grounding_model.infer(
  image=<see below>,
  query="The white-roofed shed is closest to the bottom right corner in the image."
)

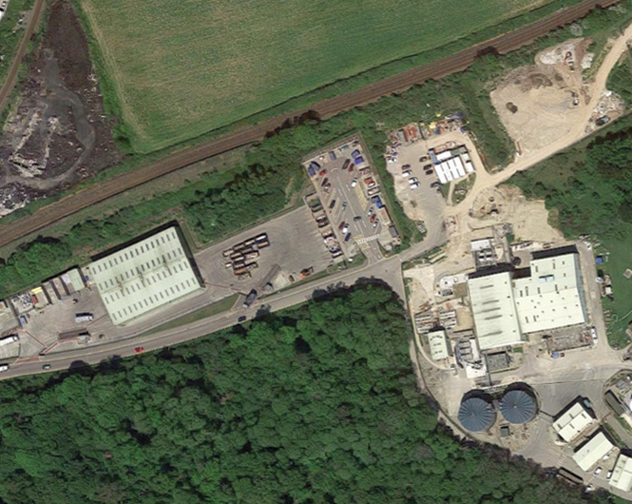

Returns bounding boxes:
[609,454,632,492]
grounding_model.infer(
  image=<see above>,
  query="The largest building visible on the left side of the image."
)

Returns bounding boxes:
[87,226,203,327]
